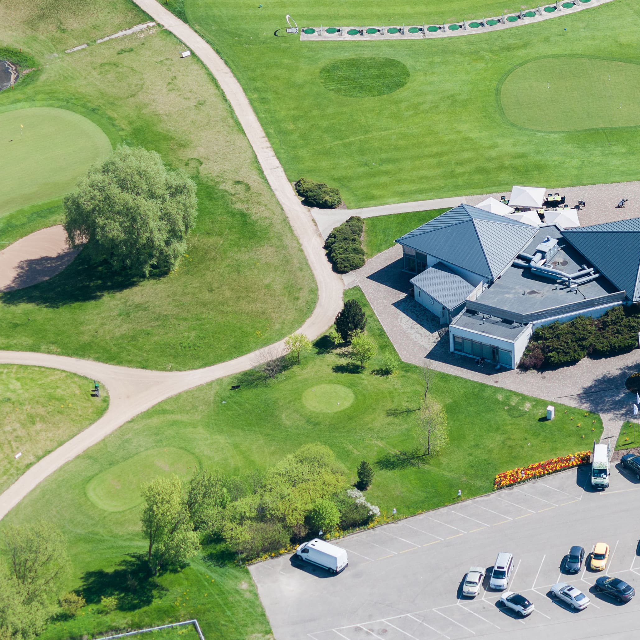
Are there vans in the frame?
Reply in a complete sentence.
Yes, the frame does contain a van.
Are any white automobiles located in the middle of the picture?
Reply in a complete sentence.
No, there's no white automobile to be seen in the middle of the picture.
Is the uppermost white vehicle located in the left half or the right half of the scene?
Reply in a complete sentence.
You can find the uppermost white vehicle on the right side of the picture.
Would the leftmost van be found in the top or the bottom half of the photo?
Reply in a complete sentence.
You can find the leftmost van in the bottom half.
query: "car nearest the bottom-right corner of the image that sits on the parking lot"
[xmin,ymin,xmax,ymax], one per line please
[593,578,639,606]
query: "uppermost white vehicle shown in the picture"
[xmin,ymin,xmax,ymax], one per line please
[589,436,612,493]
